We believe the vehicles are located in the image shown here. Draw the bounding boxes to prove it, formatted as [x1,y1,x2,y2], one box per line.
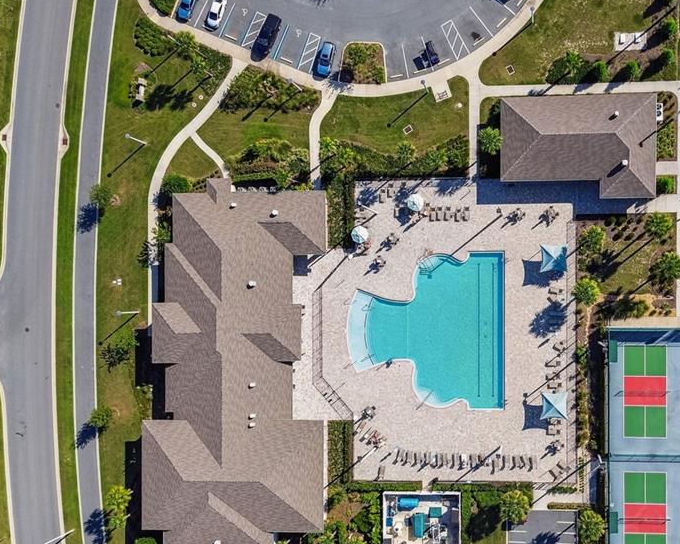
[425,46,439,67]
[204,0,225,31]
[177,0,196,22]
[251,15,280,59]
[315,42,334,78]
